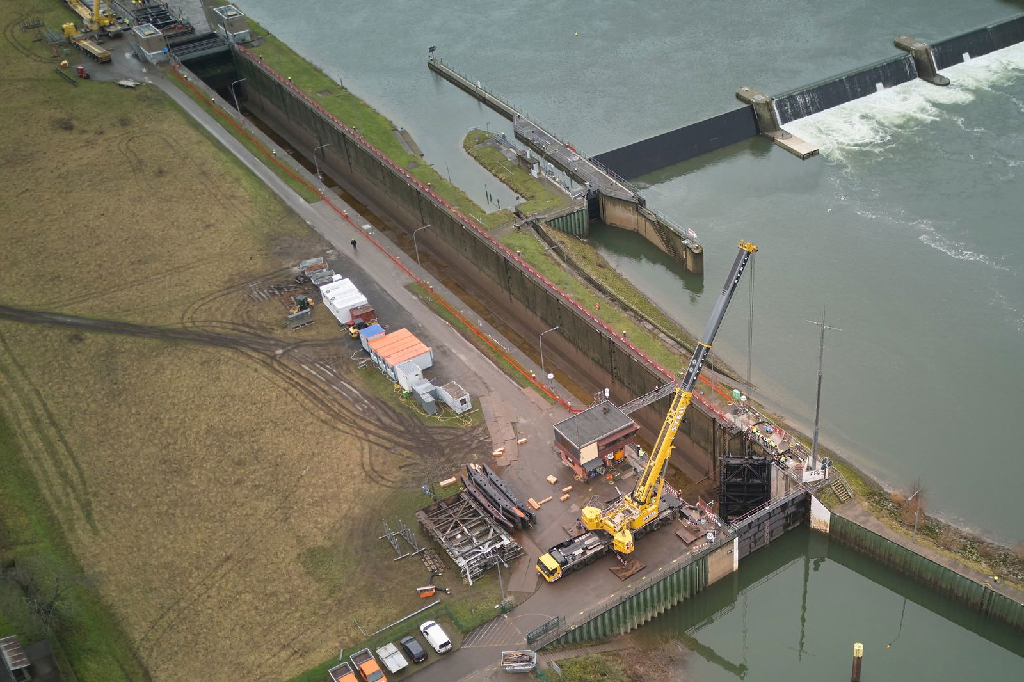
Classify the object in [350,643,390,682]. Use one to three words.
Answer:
truck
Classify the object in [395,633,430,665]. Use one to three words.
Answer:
car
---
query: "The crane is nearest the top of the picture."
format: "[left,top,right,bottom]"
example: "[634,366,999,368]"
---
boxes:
[86,0,133,41]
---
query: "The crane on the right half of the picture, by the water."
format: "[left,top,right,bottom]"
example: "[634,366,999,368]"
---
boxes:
[532,245,757,587]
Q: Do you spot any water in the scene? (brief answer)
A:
Yes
